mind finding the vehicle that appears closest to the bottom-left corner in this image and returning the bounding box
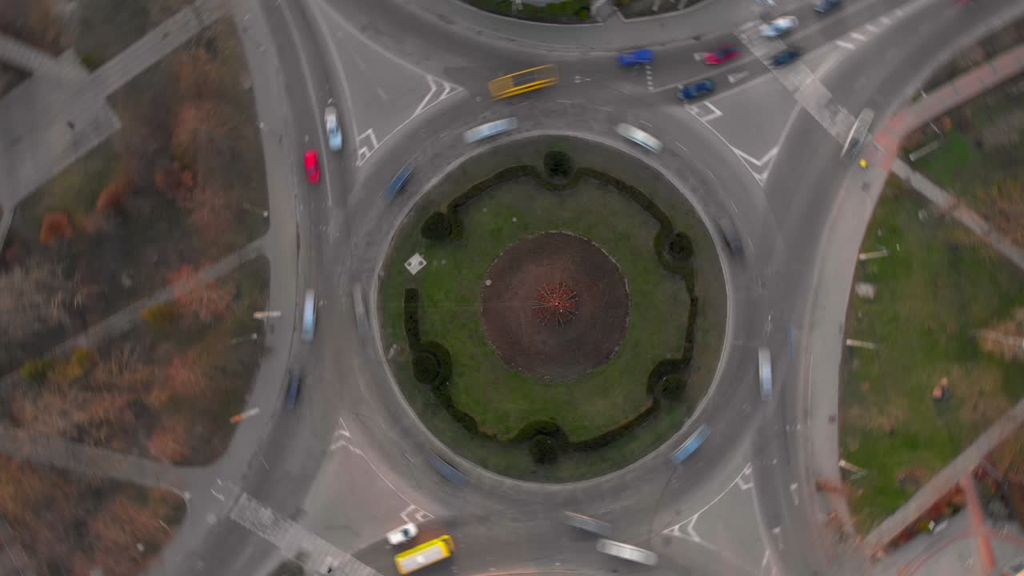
[283,368,304,407]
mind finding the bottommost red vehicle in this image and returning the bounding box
[303,149,322,184]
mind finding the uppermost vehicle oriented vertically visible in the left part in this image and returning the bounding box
[322,106,344,151]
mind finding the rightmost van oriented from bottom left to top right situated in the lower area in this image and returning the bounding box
[669,424,710,464]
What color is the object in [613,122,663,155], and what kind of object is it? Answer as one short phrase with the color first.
white vehicle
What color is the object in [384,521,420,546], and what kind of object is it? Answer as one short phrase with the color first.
white car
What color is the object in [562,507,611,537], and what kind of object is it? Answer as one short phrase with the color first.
gray van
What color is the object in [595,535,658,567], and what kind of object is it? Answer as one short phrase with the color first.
white vehicle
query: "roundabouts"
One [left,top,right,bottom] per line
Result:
[303,0,802,576]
